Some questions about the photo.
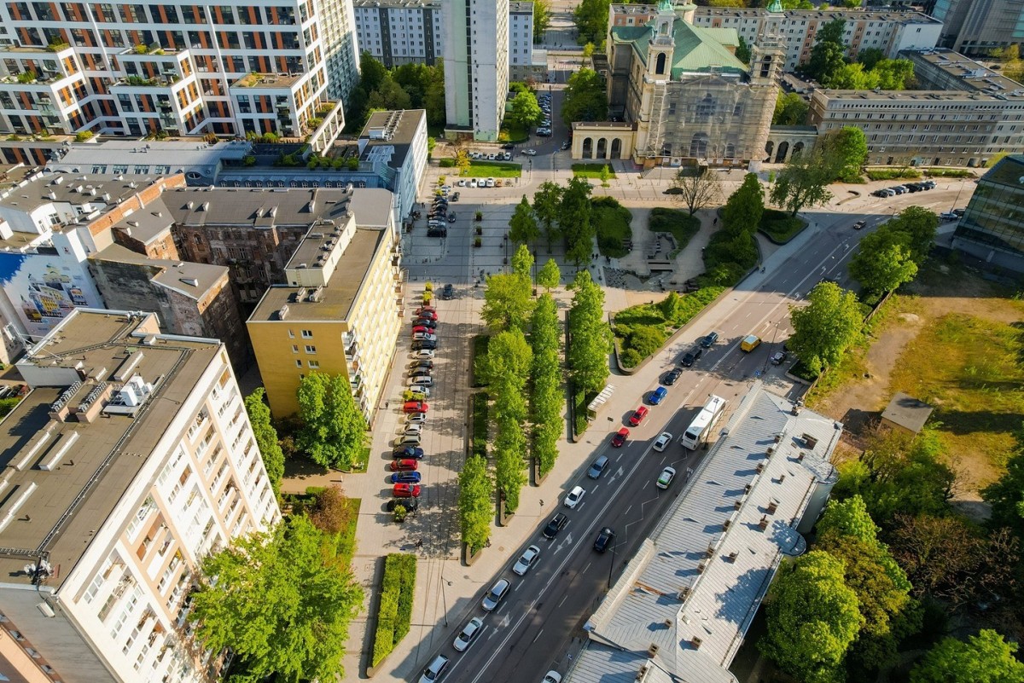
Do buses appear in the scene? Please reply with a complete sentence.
Yes, the image includes a bus.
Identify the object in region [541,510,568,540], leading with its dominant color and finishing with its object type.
black car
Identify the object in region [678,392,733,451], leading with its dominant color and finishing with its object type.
white bus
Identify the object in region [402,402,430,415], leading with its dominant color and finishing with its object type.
red vehicle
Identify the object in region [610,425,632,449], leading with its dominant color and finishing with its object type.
red car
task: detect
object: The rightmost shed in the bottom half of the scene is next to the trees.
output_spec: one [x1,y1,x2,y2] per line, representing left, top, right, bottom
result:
[876,392,933,443]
